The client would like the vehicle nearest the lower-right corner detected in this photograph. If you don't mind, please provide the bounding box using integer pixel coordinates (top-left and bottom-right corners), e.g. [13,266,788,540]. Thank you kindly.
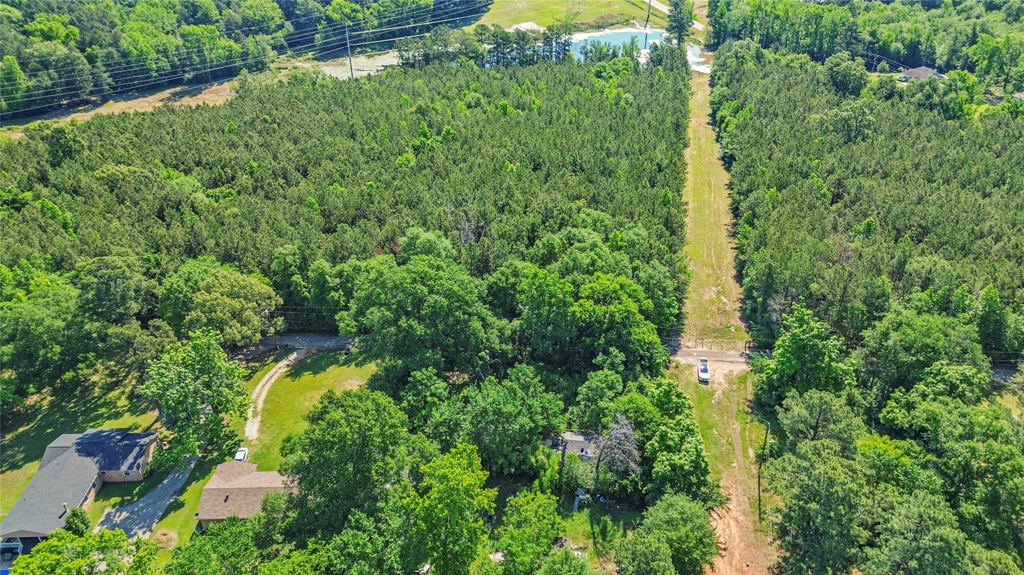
[697,353,711,379]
